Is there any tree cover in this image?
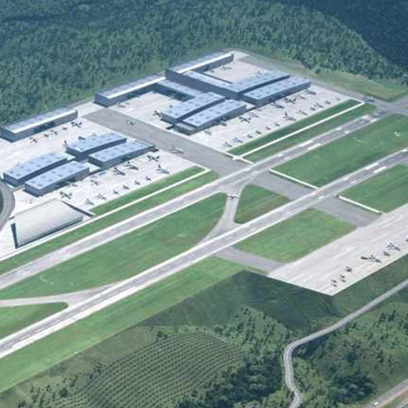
Yes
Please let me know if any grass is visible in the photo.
Yes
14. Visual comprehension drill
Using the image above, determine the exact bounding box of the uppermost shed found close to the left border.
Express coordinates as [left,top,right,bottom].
[1,105,75,140]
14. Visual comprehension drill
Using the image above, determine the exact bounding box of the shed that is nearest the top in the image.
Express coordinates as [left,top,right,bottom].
[167,50,233,80]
